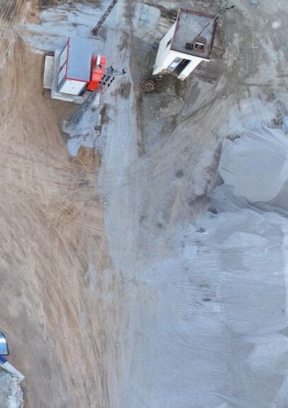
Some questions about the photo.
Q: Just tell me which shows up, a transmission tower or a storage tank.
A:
transmission tower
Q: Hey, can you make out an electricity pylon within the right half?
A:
No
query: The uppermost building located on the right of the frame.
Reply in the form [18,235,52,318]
[152,7,217,83]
